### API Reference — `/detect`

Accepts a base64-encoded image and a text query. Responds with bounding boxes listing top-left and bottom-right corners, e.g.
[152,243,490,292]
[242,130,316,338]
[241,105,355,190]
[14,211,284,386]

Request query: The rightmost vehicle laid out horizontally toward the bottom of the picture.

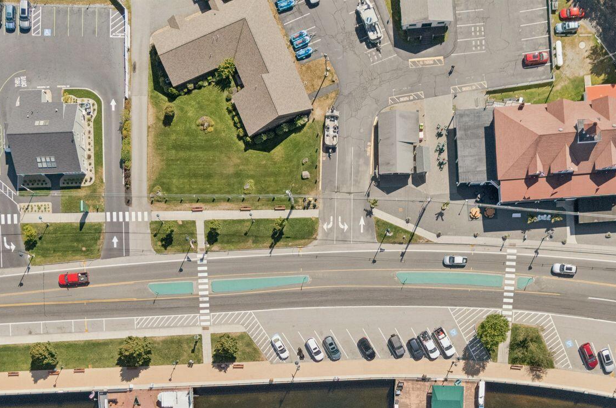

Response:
[550,263,578,276]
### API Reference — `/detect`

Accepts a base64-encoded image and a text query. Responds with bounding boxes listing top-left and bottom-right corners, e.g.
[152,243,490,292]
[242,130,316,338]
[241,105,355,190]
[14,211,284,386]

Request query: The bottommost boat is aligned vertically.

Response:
[325,108,339,155]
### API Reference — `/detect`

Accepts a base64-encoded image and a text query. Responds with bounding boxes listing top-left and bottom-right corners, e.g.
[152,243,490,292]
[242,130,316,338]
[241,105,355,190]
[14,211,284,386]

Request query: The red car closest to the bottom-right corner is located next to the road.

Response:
[579,341,596,370]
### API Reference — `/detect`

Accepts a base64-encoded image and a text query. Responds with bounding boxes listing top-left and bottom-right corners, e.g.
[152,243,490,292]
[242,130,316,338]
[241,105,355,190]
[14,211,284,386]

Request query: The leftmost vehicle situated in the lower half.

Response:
[59,271,91,285]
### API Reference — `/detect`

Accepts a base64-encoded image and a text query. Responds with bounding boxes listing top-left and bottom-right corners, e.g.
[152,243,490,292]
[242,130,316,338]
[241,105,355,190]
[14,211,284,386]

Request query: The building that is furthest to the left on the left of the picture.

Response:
[4,90,84,175]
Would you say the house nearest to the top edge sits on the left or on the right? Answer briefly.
right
